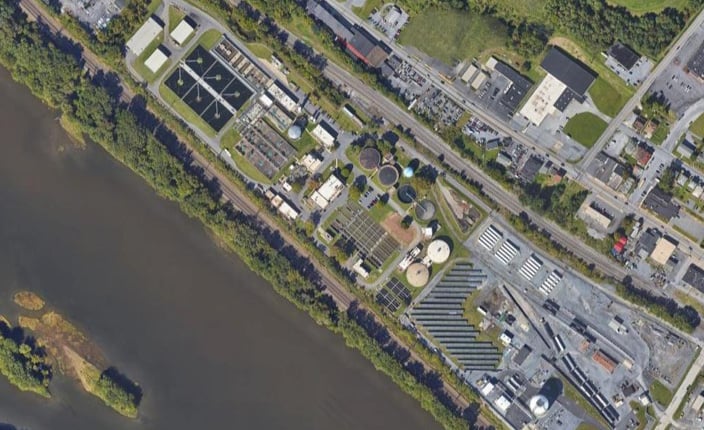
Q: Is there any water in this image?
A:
Yes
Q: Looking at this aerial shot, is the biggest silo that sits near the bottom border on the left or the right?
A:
right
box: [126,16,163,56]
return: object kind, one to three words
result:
shed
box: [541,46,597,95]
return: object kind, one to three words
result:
building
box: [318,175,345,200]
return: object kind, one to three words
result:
building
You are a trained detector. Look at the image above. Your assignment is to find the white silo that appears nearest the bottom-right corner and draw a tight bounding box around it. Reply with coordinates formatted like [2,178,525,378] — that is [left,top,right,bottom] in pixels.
[529,394,549,414]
